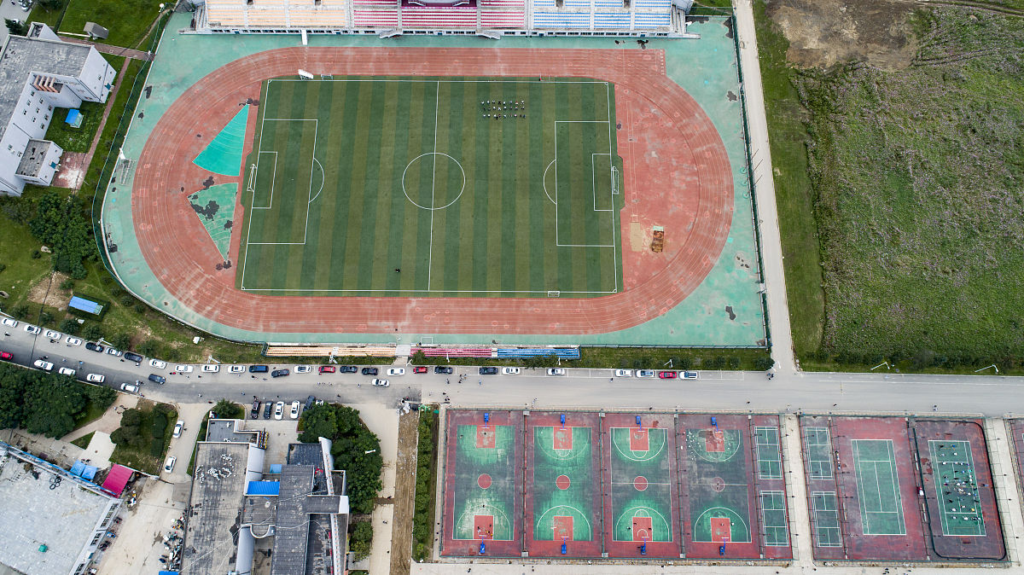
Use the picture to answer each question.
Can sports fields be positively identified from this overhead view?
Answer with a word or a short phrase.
Yes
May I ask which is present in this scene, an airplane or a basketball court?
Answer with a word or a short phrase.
basketball court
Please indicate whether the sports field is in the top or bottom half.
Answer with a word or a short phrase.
top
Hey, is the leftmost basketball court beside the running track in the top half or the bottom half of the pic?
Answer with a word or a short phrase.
bottom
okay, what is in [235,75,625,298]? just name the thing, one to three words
sports field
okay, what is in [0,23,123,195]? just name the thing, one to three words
building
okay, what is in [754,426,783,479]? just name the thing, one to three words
sports court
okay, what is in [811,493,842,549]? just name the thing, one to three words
sports court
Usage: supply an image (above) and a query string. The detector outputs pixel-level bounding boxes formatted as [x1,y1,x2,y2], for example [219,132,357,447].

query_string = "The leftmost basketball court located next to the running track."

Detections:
[441,411,523,557]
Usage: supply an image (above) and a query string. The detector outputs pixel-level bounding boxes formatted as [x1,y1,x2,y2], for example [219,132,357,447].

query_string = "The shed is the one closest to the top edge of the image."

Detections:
[82,24,108,43]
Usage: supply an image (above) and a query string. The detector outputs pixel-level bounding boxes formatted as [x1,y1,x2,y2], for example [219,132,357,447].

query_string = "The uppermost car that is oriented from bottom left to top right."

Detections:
[302,394,315,410]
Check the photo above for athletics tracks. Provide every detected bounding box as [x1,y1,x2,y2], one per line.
[103,10,766,346]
